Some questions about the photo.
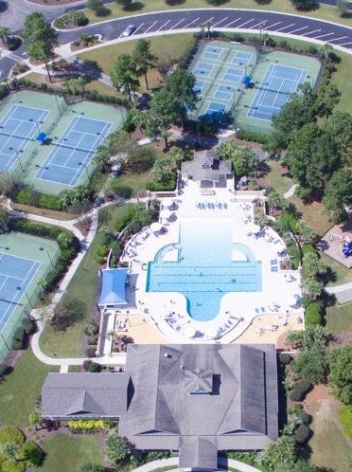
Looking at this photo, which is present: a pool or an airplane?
pool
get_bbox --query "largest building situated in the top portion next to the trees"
[178,141,232,179]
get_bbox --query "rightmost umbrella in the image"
[283,289,299,302]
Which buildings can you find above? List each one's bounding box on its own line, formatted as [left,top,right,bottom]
[178,141,232,179]
[39,341,279,472]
